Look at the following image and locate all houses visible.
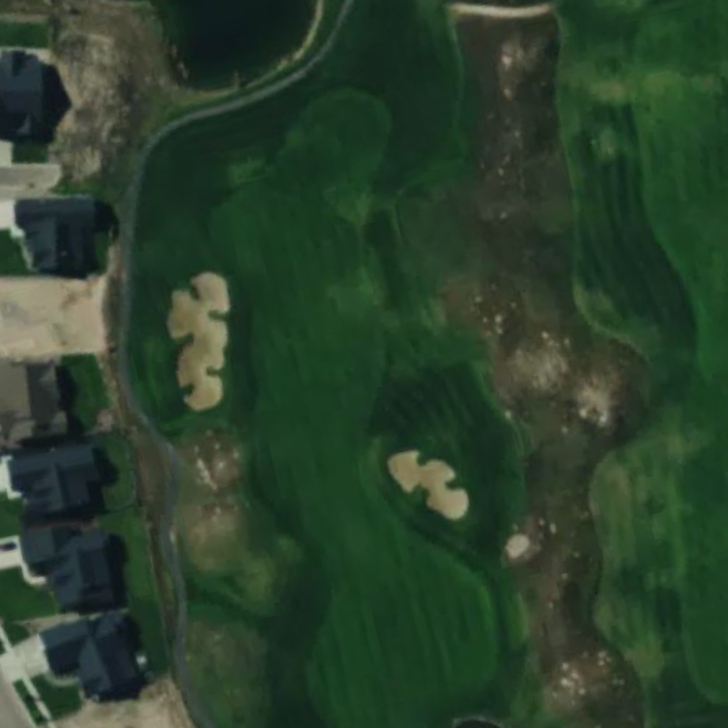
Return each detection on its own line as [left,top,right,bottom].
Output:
[19,524,118,611]
[12,194,97,274]
[33,607,145,700]
[7,439,103,521]
[0,357,69,443]
[0,49,47,140]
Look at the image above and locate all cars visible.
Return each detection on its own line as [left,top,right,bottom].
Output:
[0,539,19,552]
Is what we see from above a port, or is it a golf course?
golf course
